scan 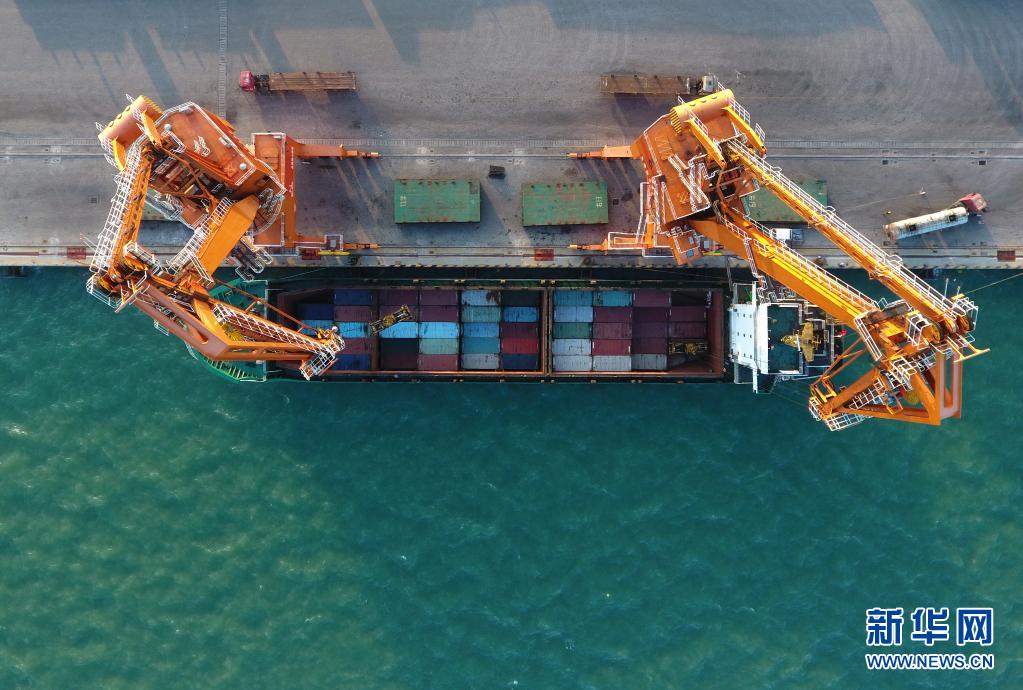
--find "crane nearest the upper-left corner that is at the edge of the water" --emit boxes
[78,89,394,377]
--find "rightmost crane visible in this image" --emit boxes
[569,81,984,428]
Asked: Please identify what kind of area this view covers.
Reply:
port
